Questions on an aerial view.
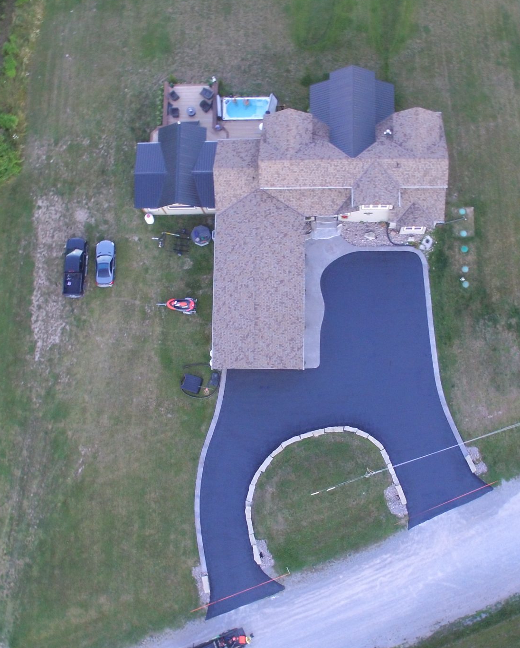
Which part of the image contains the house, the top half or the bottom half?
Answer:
top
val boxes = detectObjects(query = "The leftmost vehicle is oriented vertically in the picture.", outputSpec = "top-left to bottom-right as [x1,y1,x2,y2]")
[62,239,90,300]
